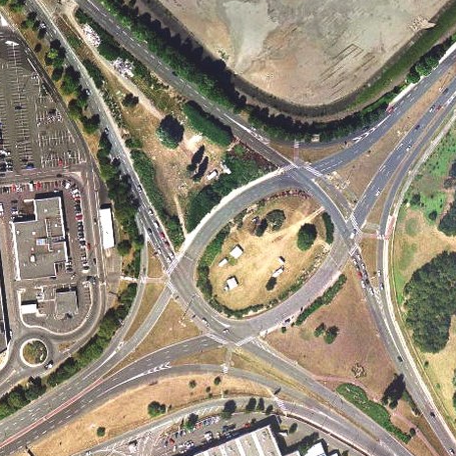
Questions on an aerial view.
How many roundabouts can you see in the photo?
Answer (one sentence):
The photo contains 2 roundabouts.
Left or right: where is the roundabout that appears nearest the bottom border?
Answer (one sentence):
The roundabout that appears nearest the bottom border is on the left side of the image.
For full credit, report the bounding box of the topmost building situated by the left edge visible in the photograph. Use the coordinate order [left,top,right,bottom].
[11,195,69,281]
